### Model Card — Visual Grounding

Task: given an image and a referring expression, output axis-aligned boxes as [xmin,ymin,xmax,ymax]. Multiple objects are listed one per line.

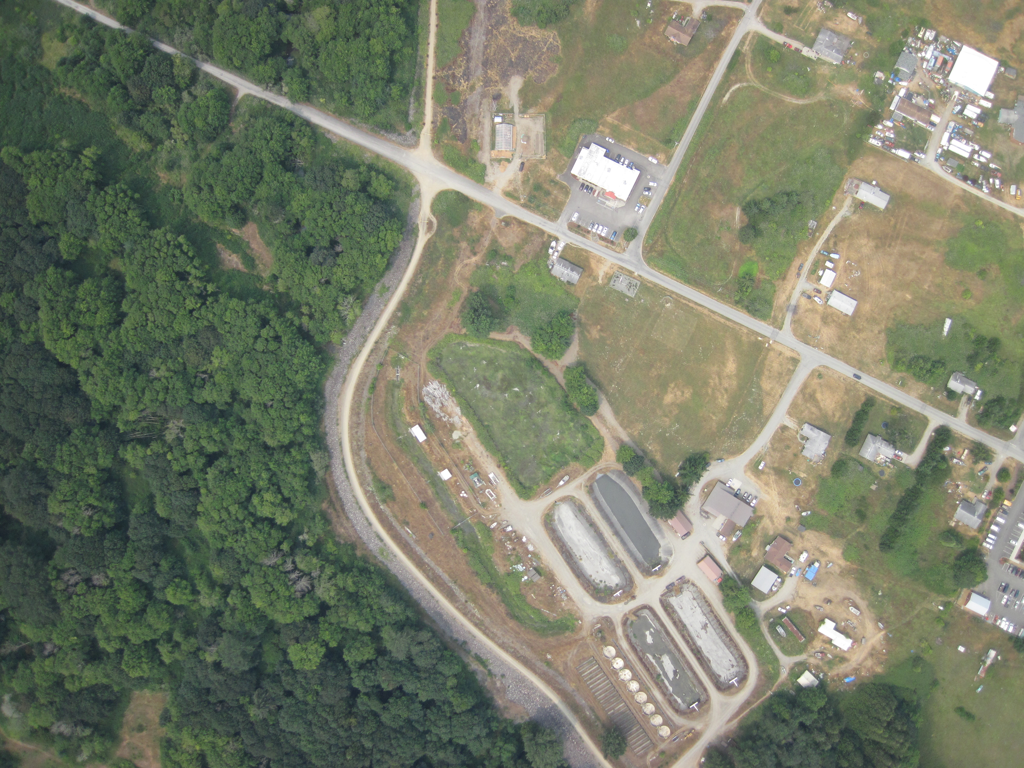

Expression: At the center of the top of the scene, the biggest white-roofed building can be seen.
[571,143,640,204]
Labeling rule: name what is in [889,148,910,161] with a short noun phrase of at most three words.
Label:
vehicle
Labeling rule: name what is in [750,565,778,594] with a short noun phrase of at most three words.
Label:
barn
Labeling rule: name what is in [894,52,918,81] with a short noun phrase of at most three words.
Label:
shed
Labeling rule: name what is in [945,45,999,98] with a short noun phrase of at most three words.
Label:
building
